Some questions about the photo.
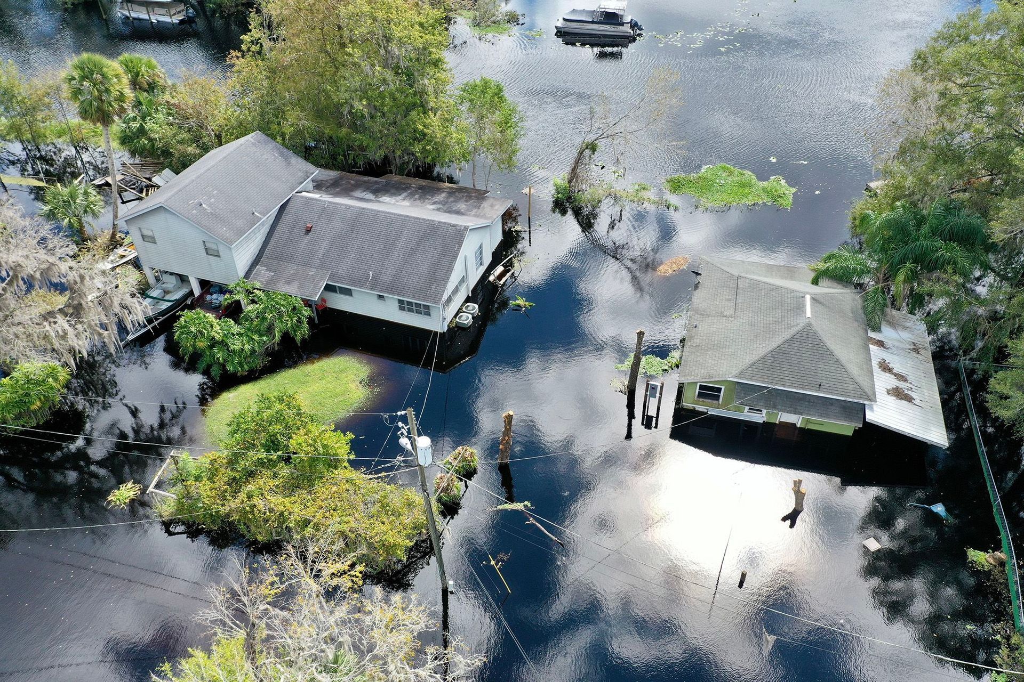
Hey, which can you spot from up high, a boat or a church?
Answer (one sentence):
Looking from above, you can make out a boat.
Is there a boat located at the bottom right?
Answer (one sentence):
No, there's no boat to be seen at the bottom right.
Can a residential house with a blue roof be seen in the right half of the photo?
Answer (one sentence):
No, in the right half of the photo there is no residential house with a blue roof.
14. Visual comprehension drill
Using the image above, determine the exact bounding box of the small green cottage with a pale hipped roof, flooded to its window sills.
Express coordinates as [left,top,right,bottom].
[678,255,948,451]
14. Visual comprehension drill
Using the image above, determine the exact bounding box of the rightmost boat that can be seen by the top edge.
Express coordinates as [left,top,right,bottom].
[561,2,641,44]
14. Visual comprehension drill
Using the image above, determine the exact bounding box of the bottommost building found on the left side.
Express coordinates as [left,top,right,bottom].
[110,131,513,354]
